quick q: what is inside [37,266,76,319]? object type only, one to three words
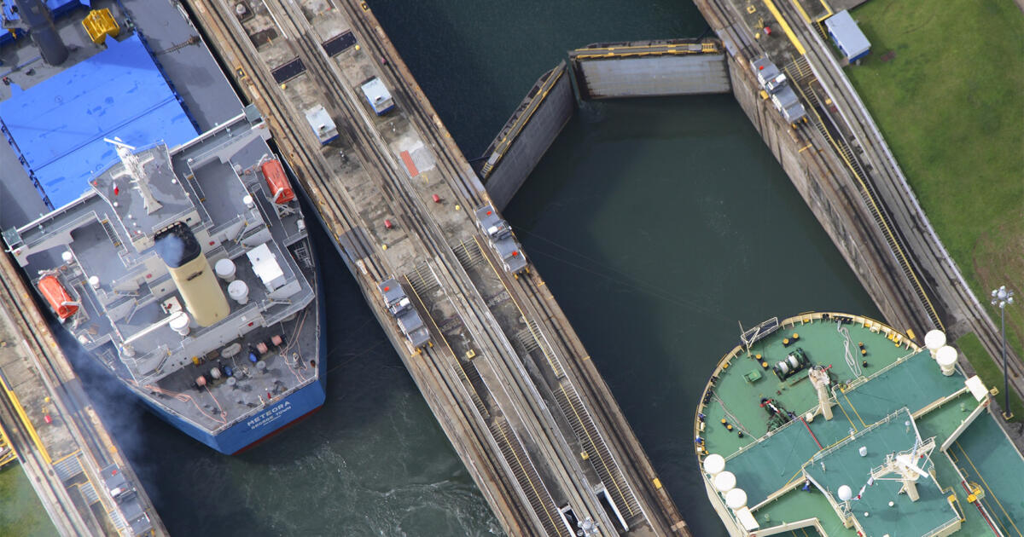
boat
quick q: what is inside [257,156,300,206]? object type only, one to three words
boat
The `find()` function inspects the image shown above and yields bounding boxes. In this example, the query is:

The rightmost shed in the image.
[823,9,872,68]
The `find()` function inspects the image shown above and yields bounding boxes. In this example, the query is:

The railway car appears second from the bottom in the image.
[378,276,432,351]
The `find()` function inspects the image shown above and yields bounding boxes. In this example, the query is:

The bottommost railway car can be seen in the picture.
[97,464,150,537]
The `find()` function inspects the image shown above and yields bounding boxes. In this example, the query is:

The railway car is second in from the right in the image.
[475,201,528,274]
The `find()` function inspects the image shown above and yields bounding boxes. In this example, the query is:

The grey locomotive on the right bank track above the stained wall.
[752,52,806,124]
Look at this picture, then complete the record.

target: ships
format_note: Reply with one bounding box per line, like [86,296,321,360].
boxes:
[0,0,326,457]
[693,313,1024,537]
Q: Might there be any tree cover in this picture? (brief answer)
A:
No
